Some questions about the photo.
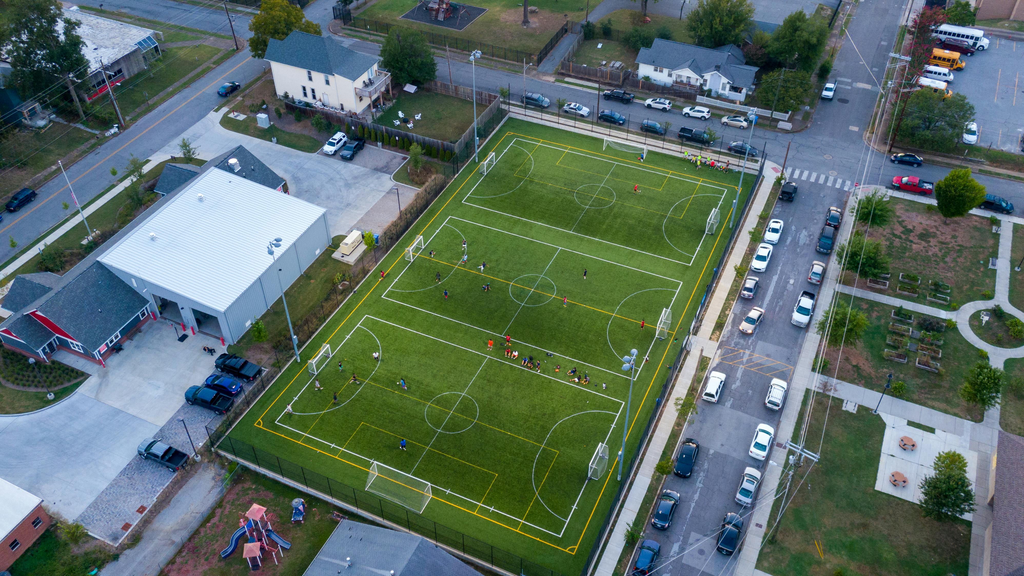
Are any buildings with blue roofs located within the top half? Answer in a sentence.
Yes, a building with a blue roof is visible within the top half.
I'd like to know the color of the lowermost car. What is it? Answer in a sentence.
The color of the lowermost car is blue.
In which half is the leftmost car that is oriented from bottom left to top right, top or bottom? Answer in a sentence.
You can find the leftmost car that is oriented from bottom left to top right in the top half.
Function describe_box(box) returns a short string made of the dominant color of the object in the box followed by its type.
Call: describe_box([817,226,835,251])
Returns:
blue car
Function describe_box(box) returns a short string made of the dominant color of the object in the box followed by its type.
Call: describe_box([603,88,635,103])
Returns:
black vehicle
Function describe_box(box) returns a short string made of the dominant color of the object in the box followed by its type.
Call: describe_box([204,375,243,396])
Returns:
blue car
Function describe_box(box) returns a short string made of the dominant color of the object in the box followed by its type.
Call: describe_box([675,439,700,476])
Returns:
black car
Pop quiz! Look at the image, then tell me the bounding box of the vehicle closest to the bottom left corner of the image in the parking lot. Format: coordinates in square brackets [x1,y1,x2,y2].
[138,440,187,468]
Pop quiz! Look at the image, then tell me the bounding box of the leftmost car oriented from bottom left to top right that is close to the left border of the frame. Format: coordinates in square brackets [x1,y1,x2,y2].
[6,188,36,210]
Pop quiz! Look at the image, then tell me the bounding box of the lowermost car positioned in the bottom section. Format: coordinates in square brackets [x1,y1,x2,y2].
[633,537,660,576]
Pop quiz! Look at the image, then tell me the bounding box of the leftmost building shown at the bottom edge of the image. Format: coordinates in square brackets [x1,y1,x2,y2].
[0,480,49,571]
